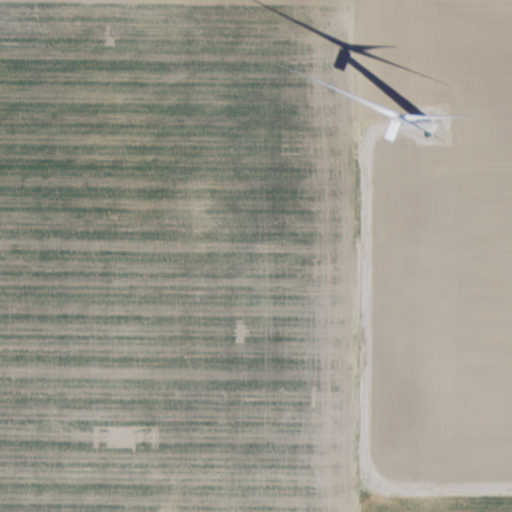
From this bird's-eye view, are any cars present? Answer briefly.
No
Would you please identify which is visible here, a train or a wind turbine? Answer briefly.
wind turbine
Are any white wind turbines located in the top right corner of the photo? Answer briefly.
Yes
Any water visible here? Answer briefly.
No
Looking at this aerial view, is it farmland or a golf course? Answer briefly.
farmland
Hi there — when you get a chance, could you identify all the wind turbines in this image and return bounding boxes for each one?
[272,55,475,148]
